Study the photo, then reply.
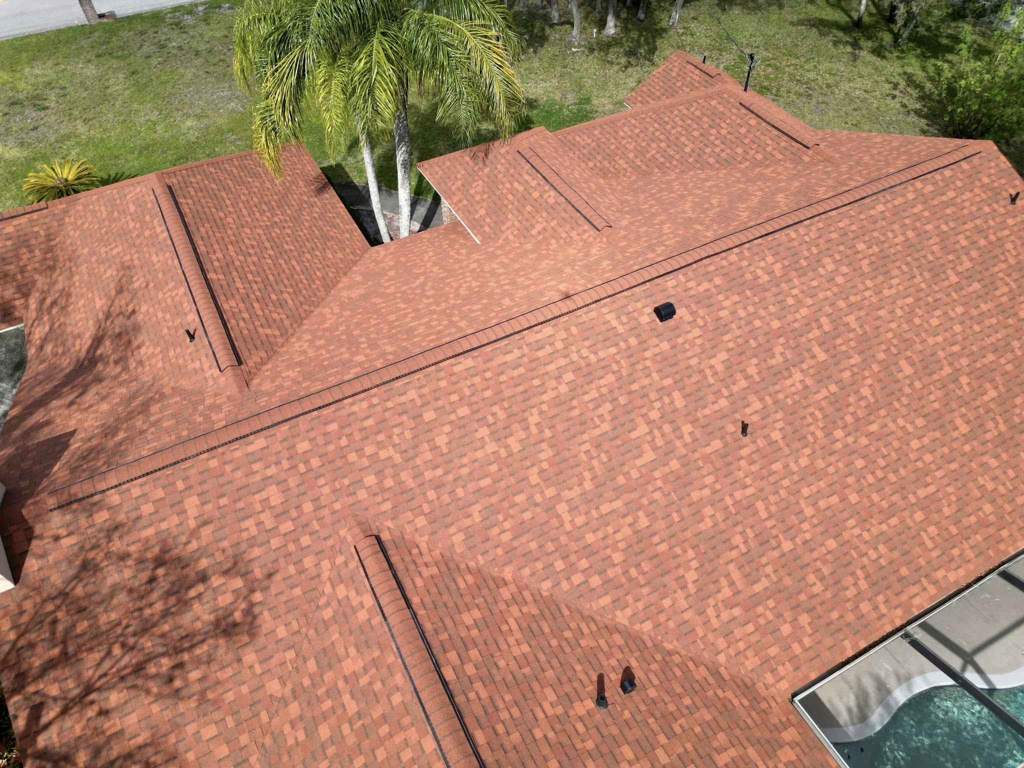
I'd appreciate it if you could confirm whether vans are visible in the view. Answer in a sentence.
No, this view has no van in it.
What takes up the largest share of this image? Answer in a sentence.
The scene is dominated by buildings.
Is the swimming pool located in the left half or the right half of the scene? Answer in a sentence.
The swimming pool is on the right side of the image.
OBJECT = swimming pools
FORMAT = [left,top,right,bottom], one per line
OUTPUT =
[822,664,1024,768]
